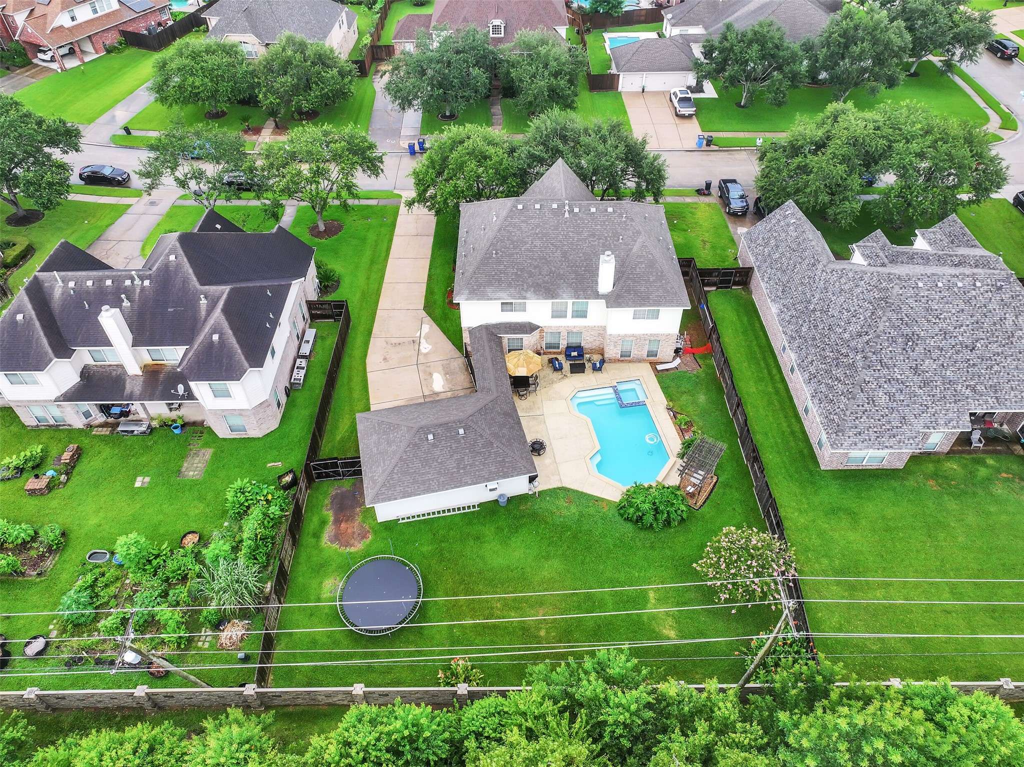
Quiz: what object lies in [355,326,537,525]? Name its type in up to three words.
building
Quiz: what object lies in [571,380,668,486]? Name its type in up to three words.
swimming pool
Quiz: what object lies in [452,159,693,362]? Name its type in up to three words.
house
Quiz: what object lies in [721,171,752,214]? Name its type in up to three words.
truck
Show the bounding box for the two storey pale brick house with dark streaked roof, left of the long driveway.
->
[0,208,321,437]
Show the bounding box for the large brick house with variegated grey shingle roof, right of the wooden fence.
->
[739,199,1024,471]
